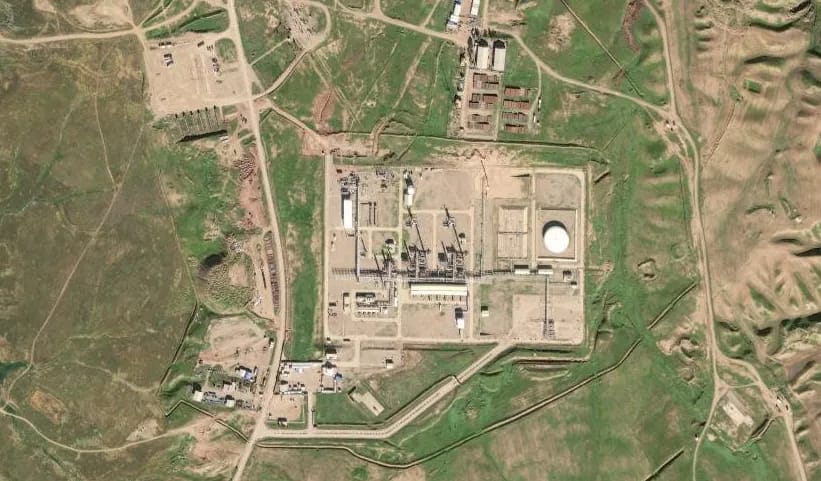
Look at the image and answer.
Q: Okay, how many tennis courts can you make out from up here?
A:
0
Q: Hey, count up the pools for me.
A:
0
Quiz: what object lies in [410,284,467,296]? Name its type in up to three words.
building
